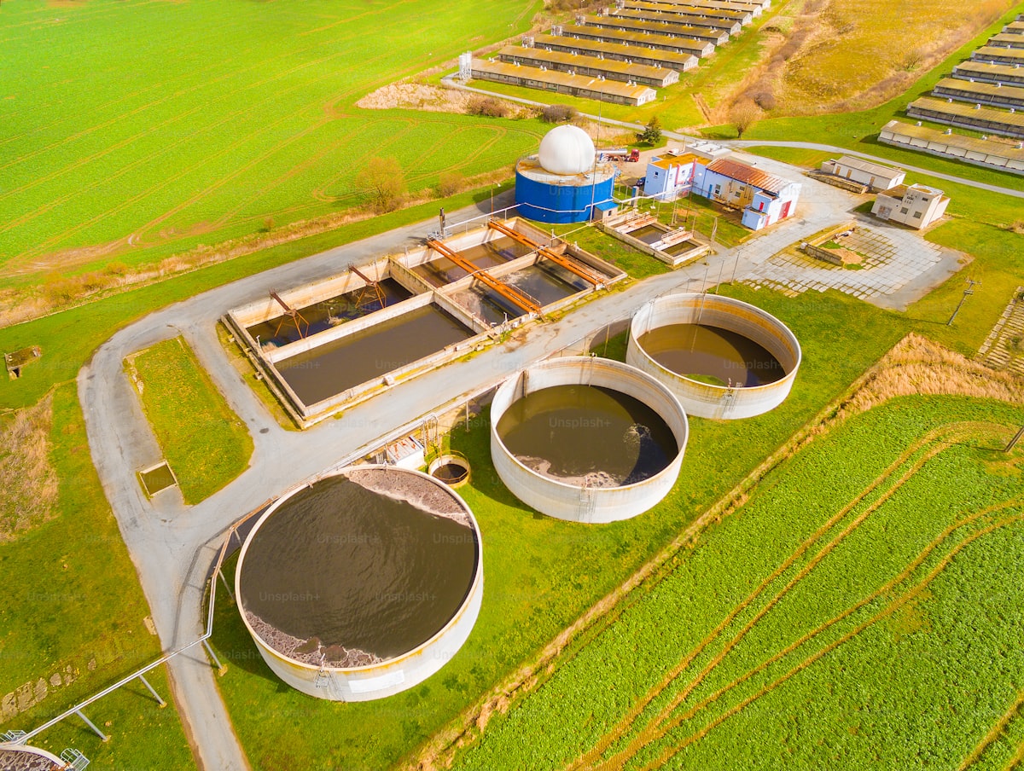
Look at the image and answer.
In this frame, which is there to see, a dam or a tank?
tank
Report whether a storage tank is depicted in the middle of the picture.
Yes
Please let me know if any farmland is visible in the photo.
Yes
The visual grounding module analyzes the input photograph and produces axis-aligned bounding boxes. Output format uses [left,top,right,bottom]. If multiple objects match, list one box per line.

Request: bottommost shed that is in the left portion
[391,431,426,467]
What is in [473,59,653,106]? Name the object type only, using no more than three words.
barn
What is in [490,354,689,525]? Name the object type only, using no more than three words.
storage tank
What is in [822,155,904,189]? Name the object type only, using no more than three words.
shed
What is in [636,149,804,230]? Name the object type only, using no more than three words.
building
